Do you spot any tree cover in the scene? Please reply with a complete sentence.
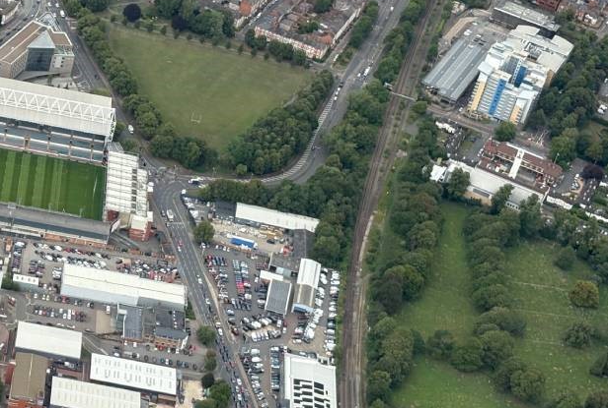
Yes, there is tree cover in the image.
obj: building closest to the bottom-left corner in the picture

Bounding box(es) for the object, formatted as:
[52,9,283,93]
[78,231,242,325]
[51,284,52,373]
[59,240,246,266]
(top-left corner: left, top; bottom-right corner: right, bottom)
[8,351,49,408]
